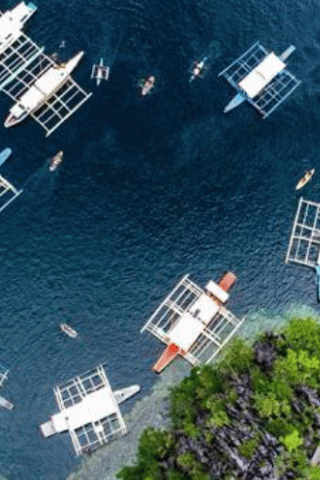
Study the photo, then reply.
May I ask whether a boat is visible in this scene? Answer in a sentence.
Yes, looking at the shot, I can spot a boat.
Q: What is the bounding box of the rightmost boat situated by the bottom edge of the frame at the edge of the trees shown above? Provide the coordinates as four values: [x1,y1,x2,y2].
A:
[39,363,140,458]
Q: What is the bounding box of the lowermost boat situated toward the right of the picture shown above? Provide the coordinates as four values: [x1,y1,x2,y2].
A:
[141,272,245,373]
